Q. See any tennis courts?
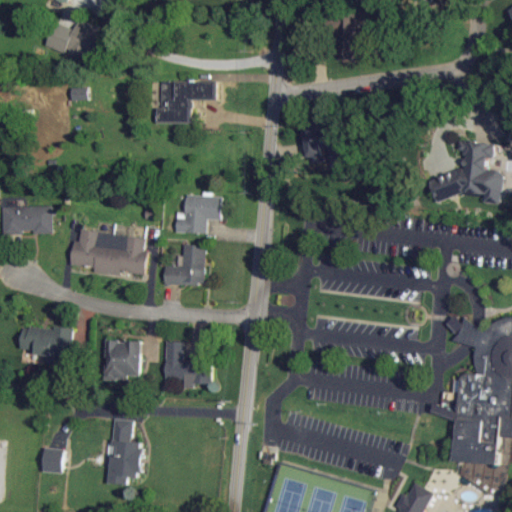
Yes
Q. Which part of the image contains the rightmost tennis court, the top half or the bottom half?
bottom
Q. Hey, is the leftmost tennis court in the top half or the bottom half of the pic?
bottom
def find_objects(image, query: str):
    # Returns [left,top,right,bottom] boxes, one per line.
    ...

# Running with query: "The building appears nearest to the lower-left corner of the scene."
[40,449,64,473]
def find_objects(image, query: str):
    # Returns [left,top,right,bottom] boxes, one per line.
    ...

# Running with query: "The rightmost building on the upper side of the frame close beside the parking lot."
[429,142,504,204]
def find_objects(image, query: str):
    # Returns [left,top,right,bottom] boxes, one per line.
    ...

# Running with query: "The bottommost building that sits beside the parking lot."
[394,484,434,512]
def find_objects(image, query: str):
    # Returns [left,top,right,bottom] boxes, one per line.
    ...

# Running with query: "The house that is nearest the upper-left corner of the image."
[46,20,82,53]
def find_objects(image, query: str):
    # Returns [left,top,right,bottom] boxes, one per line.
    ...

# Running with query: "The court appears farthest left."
[268,465,314,512]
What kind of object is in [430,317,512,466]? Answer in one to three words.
building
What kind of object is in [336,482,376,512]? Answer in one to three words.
tennis court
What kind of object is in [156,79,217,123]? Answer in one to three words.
house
